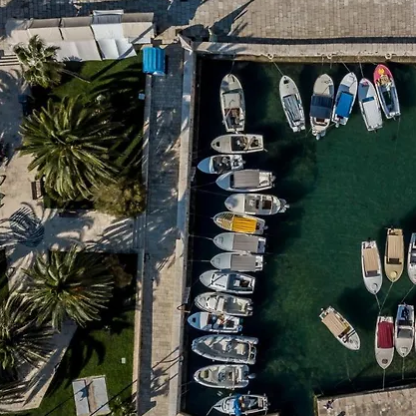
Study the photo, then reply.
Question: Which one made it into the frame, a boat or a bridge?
boat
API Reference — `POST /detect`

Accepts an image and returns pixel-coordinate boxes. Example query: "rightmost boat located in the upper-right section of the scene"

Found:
[376,64,404,122]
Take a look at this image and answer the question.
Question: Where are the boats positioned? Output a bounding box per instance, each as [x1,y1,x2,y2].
[220,74,247,135]
[199,269,257,294]
[395,301,415,358]
[211,133,265,154]
[320,306,359,350]
[214,391,271,416]
[361,237,382,295]
[279,75,309,136]
[213,232,267,253]
[308,73,335,143]
[192,333,261,365]
[212,212,271,236]
[224,193,291,216]
[195,292,259,317]
[376,64,404,122]
[210,252,268,273]
[193,363,260,390]
[187,310,245,334]
[408,232,416,284]
[375,312,395,370]
[197,154,249,175]
[332,72,359,128]
[358,77,384,135]
[216,170,278,194]
[384,225,404,282]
